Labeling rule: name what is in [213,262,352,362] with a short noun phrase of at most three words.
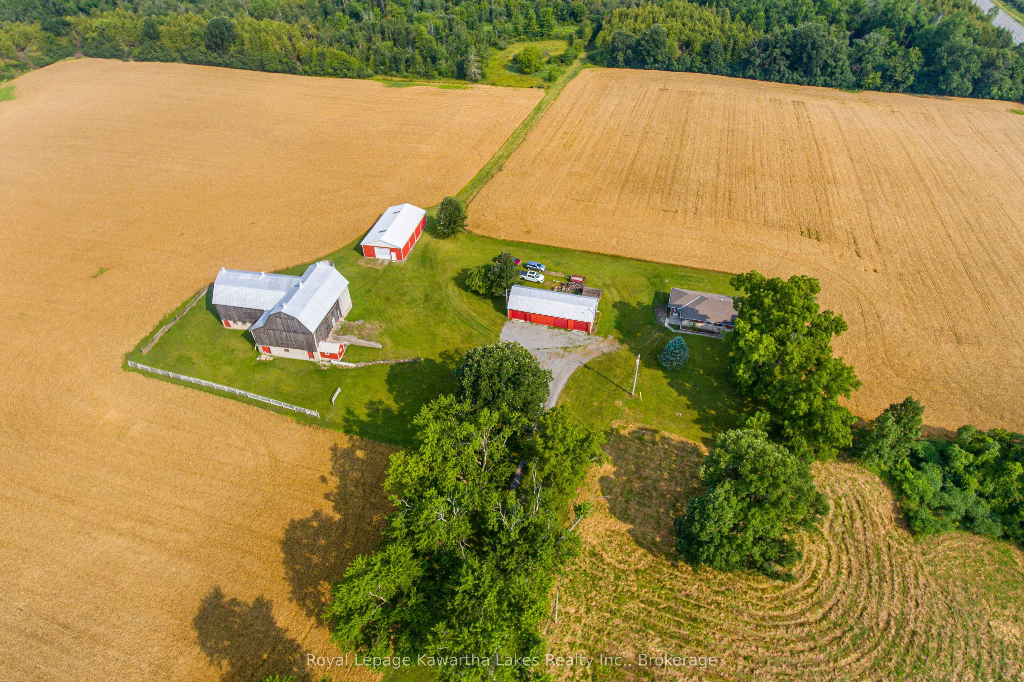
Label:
barn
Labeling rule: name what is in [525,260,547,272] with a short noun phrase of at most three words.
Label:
vehicle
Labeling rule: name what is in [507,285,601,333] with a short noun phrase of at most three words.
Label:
building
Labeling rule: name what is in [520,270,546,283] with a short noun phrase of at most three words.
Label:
vehicle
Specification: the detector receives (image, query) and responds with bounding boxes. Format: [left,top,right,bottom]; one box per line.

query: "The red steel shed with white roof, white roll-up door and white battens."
[361,203,428,261]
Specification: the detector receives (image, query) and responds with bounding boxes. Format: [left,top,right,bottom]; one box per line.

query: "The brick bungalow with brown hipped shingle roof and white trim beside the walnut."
[668,287,745,336]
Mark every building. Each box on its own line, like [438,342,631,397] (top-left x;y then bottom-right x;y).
[507,285,601,333]
[668,287,745,336]
[213,262,352,362]
[361,203,428,261]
